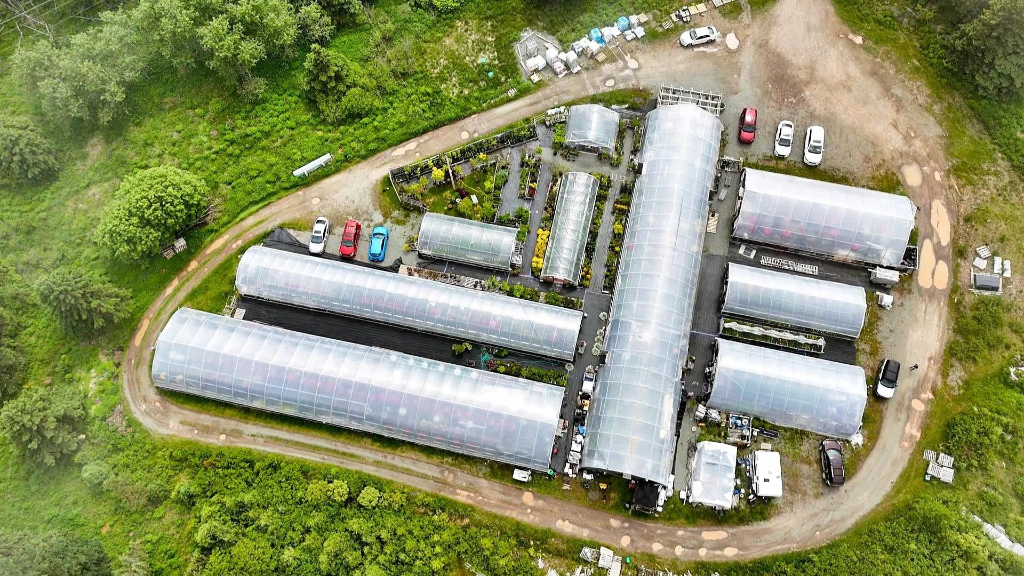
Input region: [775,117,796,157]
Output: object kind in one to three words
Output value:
car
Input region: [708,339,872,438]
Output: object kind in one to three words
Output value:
greenhouse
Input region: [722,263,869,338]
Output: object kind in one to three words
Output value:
greenhouse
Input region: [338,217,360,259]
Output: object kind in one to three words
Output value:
car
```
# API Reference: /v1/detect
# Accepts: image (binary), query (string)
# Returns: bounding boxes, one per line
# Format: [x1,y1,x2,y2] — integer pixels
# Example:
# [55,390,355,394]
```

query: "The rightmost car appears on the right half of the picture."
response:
[877,355,903,401]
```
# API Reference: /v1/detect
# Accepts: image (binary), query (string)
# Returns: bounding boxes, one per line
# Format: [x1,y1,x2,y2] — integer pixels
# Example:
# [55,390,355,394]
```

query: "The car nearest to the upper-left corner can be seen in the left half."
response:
[306,213,329,255]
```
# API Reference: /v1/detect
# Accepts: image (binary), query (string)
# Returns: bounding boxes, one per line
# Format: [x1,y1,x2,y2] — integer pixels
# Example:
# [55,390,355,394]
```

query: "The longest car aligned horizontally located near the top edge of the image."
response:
[679,22,722,45]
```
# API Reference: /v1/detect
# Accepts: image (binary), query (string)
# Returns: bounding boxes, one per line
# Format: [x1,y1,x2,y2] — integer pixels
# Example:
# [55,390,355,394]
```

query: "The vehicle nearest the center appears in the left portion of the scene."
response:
[368,223,389,262]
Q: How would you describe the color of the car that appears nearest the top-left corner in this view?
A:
white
